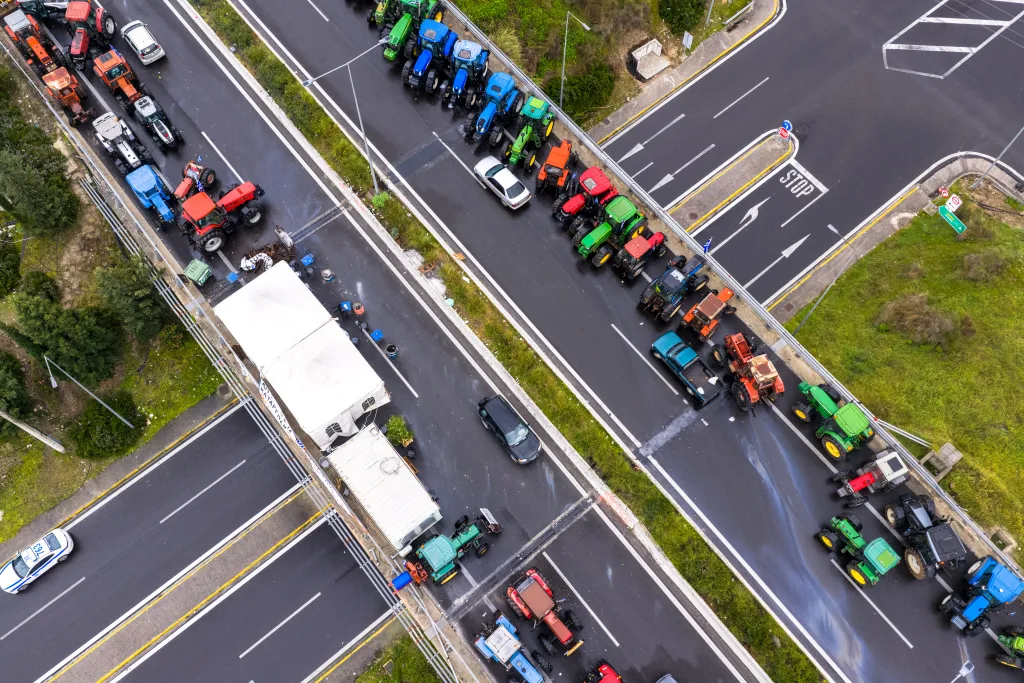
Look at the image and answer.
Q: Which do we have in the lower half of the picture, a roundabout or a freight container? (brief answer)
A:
freight container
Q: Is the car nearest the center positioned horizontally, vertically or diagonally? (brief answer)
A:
diagonally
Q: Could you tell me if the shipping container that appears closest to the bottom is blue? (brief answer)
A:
No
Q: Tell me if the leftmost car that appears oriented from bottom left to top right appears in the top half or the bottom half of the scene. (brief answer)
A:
bottom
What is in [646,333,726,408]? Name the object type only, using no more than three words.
truck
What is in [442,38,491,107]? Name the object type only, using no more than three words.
work vehicle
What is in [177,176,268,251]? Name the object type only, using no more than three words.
work vehicle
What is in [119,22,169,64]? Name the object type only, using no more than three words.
car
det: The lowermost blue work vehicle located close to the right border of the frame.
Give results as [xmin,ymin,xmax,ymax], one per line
[933,554,1024,641]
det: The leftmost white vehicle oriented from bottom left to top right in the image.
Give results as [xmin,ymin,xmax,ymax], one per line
[0,529,76,593]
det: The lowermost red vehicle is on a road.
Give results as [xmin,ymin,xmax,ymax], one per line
[579,657,629,683]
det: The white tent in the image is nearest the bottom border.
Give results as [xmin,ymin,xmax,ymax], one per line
[261,321,391,455]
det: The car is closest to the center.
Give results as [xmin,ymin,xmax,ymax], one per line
[475,392,541,466]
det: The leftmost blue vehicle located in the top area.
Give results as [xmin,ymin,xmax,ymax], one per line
[129,168,182,235]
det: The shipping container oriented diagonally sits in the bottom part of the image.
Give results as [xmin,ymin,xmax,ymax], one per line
[327,422,444,561]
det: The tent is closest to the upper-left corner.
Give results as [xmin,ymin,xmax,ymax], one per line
[215,261,329,367]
